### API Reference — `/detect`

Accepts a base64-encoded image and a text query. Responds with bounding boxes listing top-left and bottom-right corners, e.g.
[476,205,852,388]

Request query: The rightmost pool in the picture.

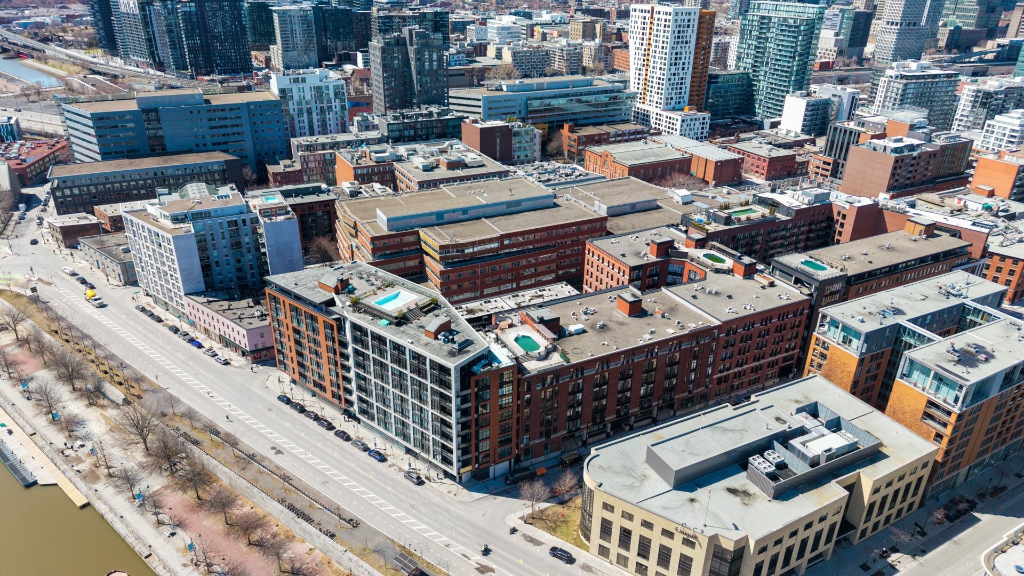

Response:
[798,260,830,272]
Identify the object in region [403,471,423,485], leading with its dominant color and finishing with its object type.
gray car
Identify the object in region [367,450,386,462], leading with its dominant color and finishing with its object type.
blue vehicle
